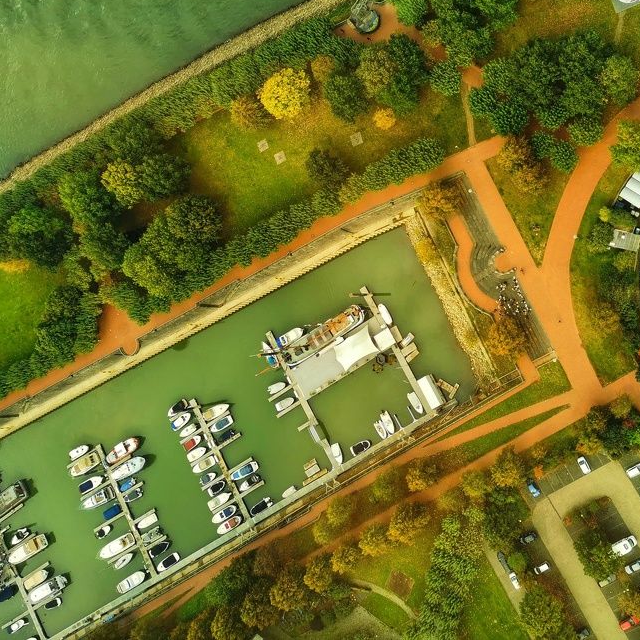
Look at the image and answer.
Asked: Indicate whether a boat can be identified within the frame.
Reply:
Yes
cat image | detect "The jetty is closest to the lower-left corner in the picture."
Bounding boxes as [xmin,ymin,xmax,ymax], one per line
[0,479,64,640]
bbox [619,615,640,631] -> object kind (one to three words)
car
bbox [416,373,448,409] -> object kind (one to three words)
building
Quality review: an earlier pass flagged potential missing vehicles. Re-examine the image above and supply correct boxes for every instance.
[576,628,591,640]
[624,559,640,575]
[598,573,617,587]
[611,534,638,557]
[533,561,551,575]
[577,456,590,474]
[625,463,640,477]
[520,532,537,544]
[619,615,640,631]
[508,572,522,591]
[528,481,539,498]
